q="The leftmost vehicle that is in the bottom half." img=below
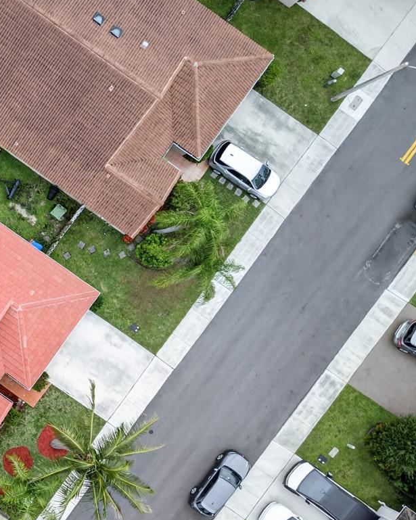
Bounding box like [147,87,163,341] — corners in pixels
[189,449,254,520]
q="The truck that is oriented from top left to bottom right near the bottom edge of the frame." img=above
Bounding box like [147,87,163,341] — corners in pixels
[279,458,380,520]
